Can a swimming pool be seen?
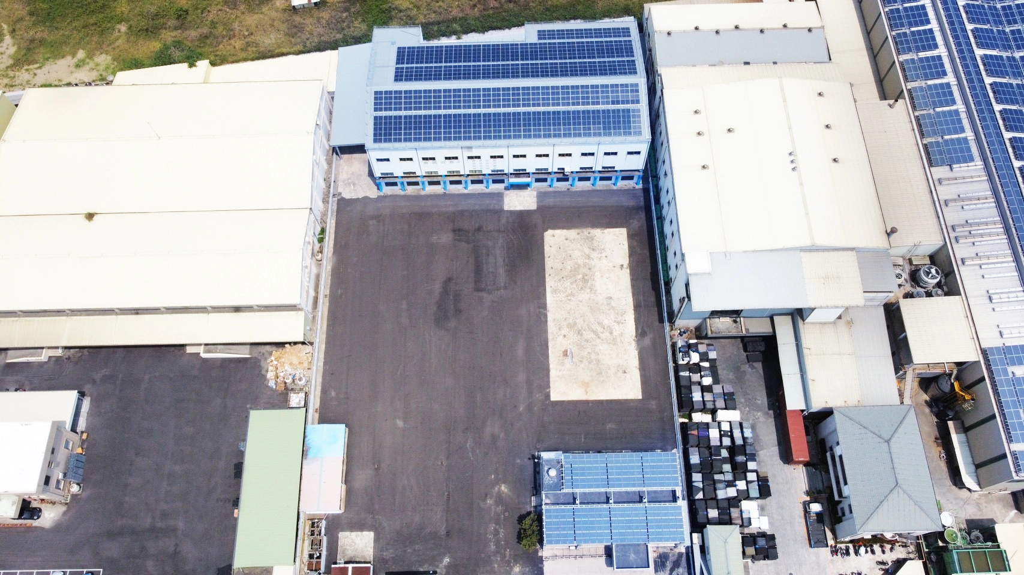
No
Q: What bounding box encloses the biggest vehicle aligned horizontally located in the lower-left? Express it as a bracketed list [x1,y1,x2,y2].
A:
[14,506,48,521]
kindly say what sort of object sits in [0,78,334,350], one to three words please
warehouse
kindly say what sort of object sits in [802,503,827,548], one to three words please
truck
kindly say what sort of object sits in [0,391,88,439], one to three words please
building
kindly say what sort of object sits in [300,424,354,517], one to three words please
shed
